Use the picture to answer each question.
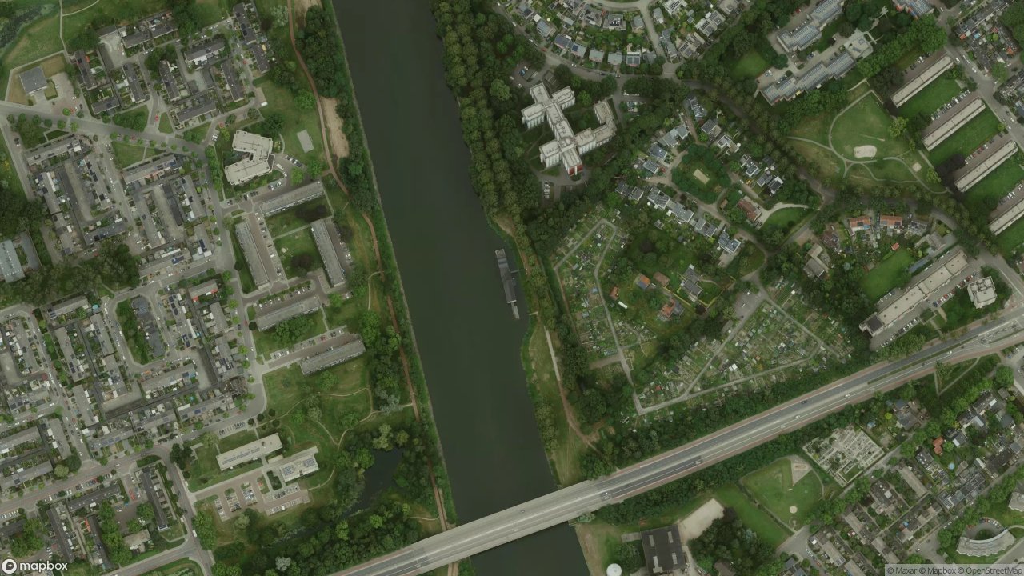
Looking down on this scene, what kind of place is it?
residential area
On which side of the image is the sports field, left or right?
right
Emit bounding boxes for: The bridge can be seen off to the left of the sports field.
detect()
[406,480,599,575]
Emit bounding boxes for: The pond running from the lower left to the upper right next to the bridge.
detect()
[303,448,402,535]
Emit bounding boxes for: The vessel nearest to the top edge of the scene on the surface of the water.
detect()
[496,250,517,303]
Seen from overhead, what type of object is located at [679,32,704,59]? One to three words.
house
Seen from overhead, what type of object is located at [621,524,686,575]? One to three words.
shed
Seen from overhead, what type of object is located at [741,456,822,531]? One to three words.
sports field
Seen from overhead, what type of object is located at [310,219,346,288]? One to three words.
building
